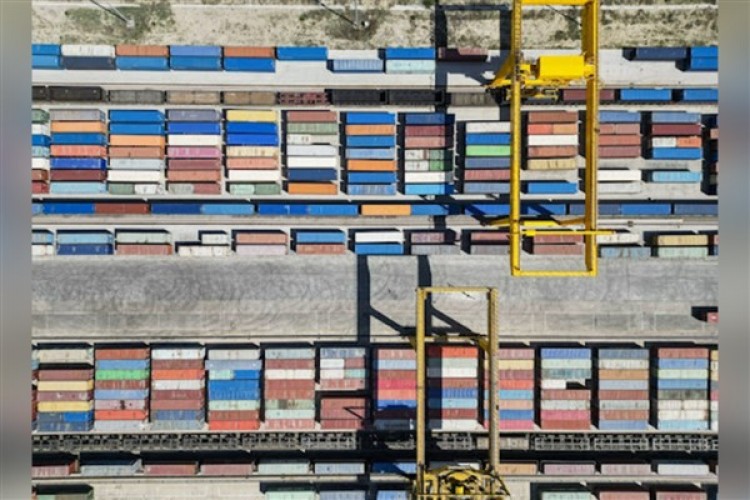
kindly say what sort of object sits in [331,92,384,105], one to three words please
rail car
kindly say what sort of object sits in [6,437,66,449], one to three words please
rail car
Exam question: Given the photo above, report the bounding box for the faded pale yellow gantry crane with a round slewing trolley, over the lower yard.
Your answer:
[401,286,509,500]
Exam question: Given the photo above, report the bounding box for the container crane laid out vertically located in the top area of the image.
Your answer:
[484,0,612,275]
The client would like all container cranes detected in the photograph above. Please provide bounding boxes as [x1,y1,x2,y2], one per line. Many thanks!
[484,0,612,275]
[401,286,509,500]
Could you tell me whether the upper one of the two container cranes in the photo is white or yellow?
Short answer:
yellow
